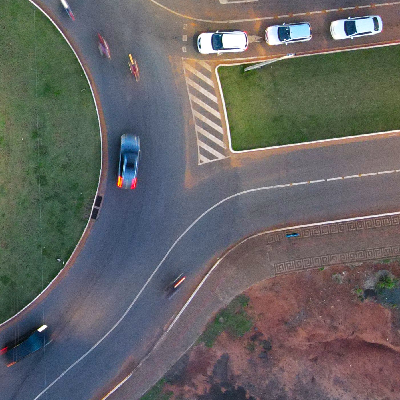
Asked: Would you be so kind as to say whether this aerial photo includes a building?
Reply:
No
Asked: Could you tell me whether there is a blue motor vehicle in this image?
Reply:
Yes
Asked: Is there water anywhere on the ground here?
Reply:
No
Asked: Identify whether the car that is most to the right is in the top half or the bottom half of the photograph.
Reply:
top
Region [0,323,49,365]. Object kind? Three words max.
car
